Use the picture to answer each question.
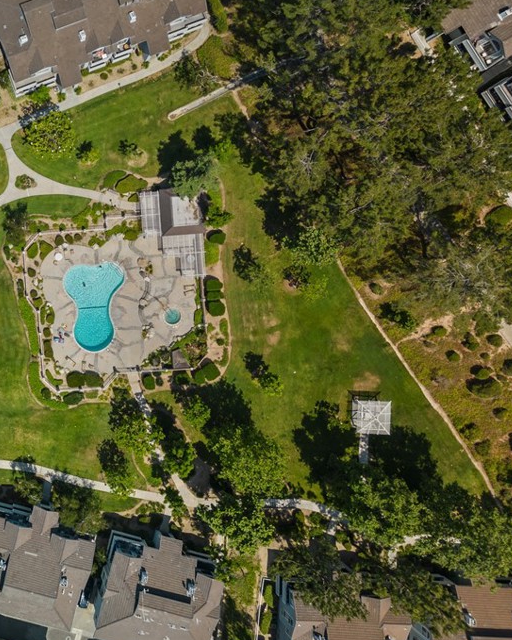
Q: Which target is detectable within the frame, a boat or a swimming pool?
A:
swimming pool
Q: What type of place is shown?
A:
residential area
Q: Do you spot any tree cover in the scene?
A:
Yes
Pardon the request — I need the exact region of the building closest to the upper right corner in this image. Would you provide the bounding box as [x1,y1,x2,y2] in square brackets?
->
[430,0,512,77]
